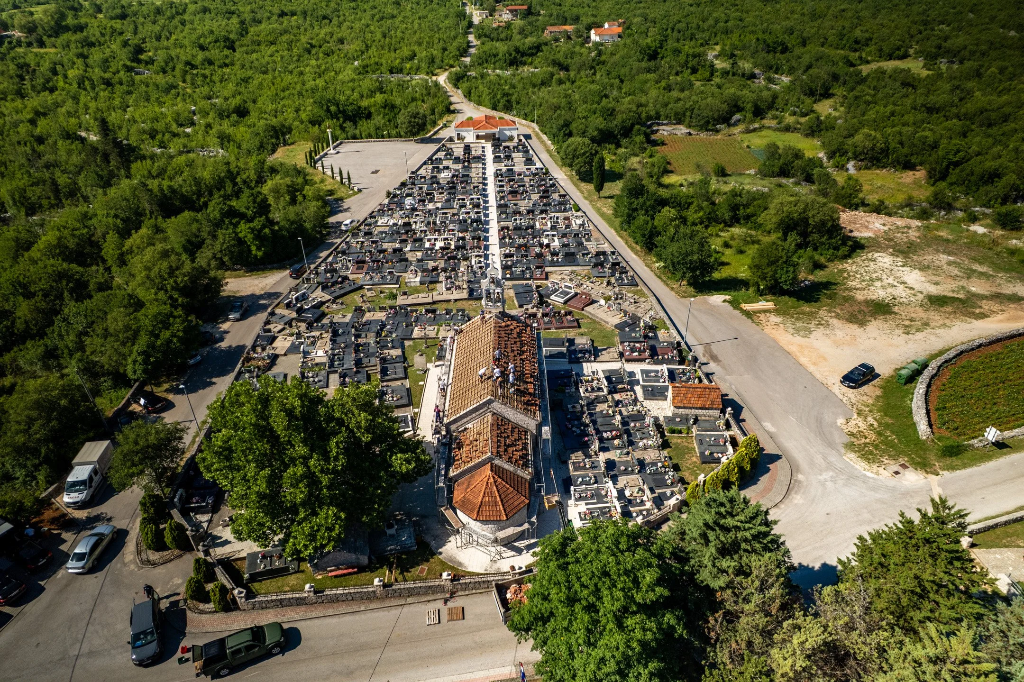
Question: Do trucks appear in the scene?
Yes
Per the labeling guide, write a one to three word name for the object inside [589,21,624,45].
house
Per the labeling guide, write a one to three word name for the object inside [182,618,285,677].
truck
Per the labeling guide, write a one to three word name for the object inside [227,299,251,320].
car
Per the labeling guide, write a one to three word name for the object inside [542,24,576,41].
building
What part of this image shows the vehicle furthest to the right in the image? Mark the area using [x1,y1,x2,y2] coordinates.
[842,356,883,387]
